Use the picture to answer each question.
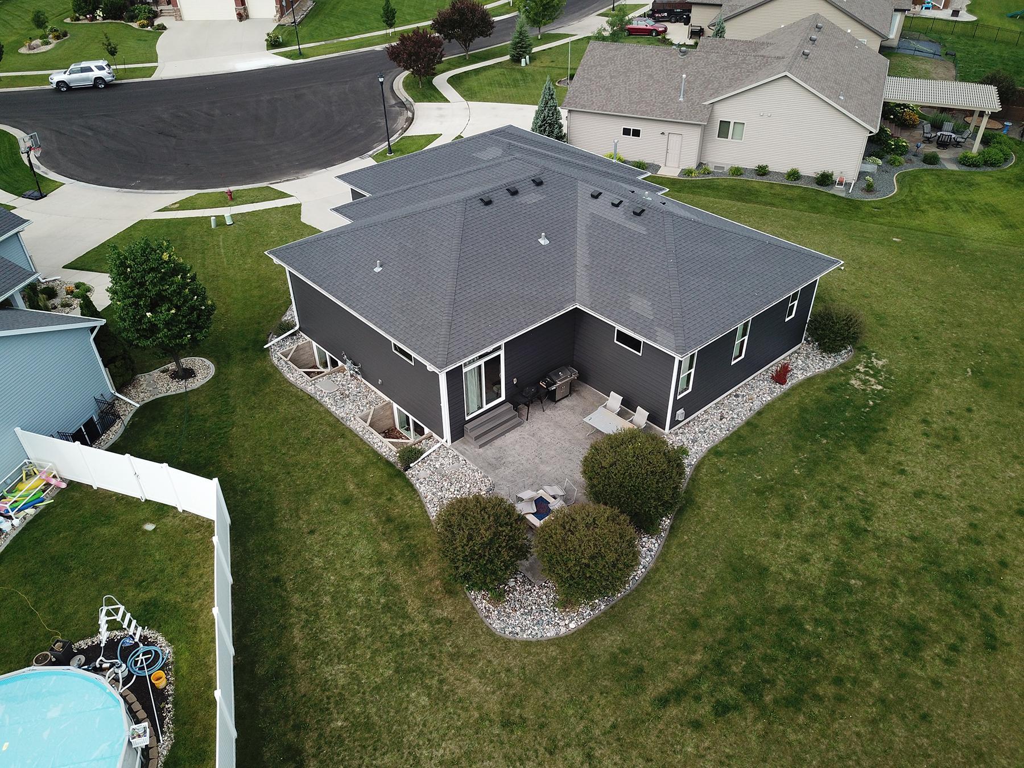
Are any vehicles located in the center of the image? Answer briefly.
No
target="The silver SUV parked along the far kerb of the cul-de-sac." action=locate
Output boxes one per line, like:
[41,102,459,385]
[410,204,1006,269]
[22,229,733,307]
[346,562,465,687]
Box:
[47,59,113,91]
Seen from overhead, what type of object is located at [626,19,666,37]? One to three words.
car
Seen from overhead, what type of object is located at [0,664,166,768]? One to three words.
swimming pool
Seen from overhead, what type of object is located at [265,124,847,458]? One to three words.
house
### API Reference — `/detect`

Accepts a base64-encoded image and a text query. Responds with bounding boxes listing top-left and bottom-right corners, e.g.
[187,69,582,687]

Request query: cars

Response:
[47,59,113,91]
[626,19,666,37]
